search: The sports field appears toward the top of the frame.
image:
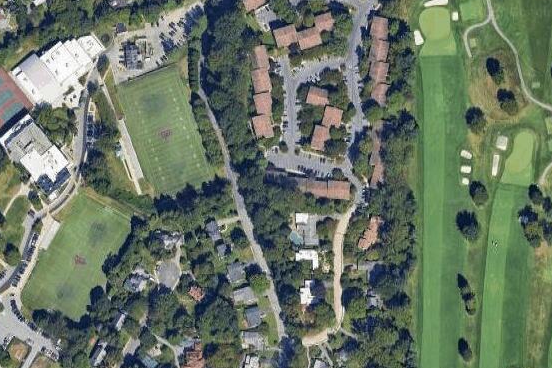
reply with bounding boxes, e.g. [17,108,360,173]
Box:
[117,62,212,197]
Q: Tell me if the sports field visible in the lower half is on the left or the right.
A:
left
